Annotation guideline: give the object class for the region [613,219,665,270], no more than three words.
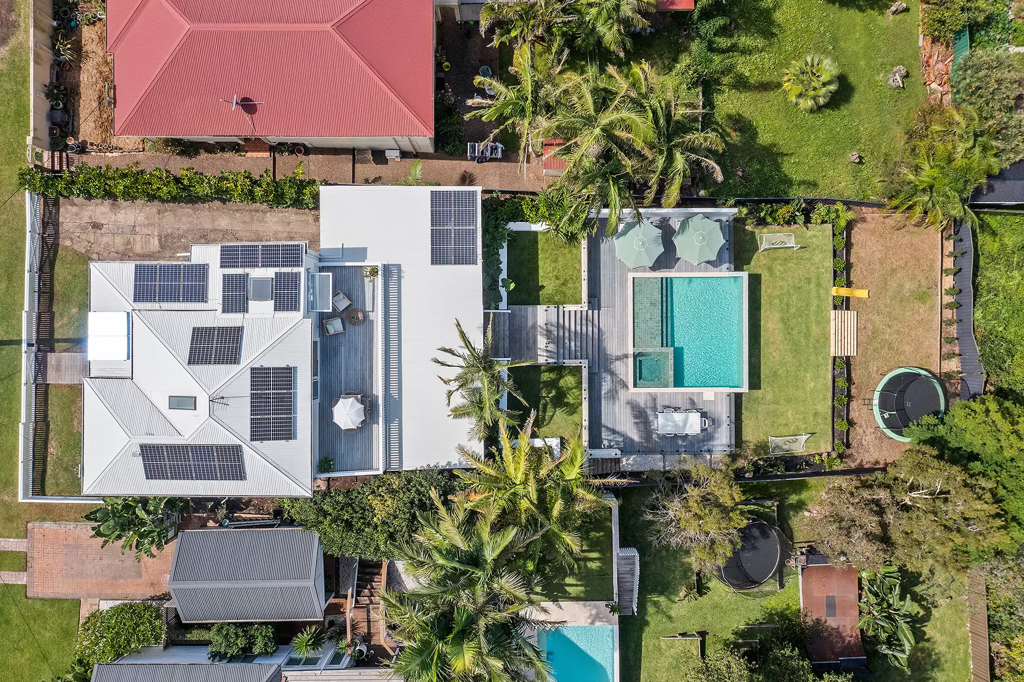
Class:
umbrella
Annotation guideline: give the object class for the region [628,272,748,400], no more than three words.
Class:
swimming pool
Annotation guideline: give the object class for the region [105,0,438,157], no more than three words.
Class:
house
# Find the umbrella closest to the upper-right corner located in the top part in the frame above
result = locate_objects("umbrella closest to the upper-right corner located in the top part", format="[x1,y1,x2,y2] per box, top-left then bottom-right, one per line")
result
[671,213,724,266]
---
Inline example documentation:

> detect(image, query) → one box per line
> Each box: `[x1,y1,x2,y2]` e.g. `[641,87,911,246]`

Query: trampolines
[854,367,959,443]
[712,515,794,598]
